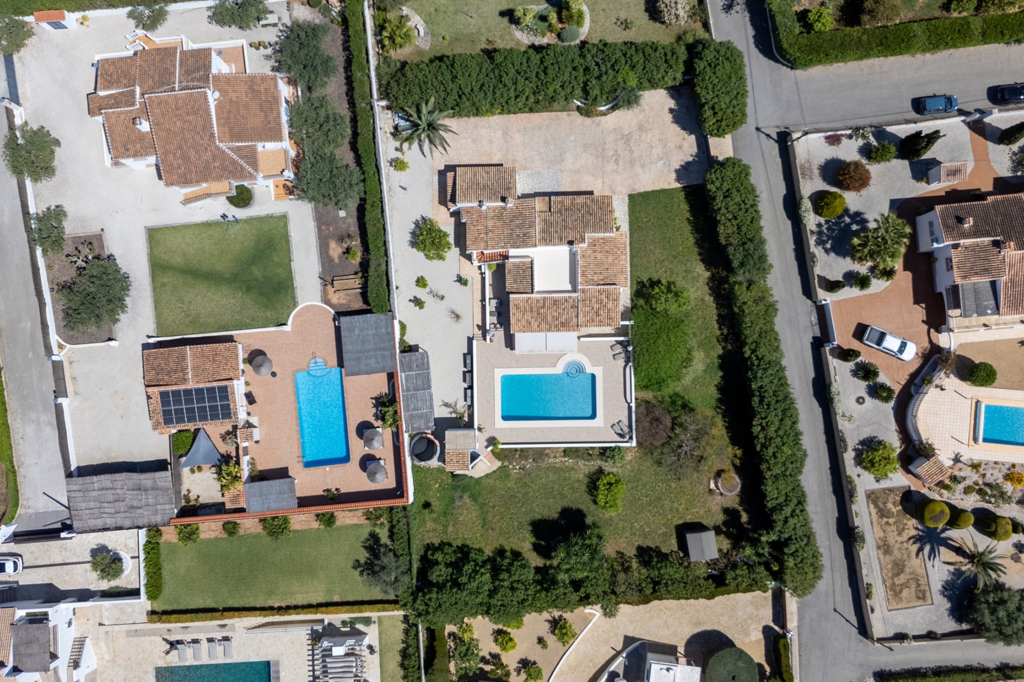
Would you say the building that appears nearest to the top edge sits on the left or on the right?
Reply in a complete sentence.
It is on the left.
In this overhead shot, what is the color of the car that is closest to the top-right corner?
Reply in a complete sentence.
In this view, the car that is closest to the top-right corner is black.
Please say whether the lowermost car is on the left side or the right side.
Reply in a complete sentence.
The lowermost car sits on the left side.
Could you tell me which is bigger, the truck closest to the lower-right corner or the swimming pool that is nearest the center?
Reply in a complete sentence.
Of the two, the swimming pool is larger and the truck is the smaller one.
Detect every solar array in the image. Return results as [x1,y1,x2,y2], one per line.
[159,385,233,425]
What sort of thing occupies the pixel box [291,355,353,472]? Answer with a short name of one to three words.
swimming pool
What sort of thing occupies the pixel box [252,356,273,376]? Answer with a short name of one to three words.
umbrella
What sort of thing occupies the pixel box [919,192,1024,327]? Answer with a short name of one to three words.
house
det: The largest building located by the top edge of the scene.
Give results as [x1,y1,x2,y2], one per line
[87,26,300,204]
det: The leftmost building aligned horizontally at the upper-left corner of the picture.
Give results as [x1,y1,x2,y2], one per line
[34,10,81,30]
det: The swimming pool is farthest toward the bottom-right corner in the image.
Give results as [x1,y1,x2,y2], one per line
[969,397,1024,454]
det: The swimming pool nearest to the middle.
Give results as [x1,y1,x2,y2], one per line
[495,353,603,428]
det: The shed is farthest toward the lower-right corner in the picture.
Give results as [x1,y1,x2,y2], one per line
[910,456,948,486]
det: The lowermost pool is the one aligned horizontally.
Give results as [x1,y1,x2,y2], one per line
[154,659,272,682]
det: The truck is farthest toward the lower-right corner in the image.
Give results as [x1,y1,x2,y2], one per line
[856,323,913,360]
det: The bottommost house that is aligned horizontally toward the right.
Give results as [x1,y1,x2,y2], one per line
[594,633,701,682]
